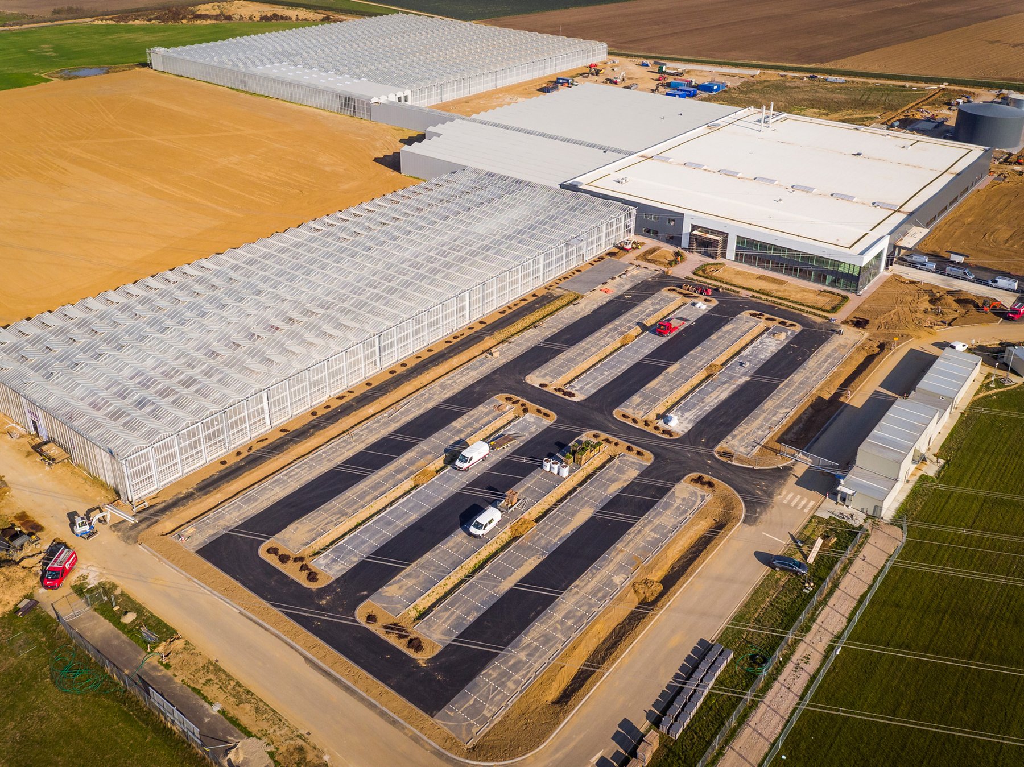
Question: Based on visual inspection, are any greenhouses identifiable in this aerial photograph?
Yes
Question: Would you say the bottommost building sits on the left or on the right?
right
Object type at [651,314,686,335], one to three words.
truck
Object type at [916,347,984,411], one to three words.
building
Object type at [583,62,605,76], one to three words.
work vehicle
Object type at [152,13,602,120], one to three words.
greenhouse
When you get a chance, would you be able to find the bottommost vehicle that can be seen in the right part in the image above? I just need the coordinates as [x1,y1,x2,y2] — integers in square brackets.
[765,553,806,576]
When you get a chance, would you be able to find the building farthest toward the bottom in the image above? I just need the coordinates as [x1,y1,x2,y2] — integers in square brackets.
[831,465,897,517]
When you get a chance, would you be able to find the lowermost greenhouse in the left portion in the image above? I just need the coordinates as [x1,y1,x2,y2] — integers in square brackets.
[0,164,638,503]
